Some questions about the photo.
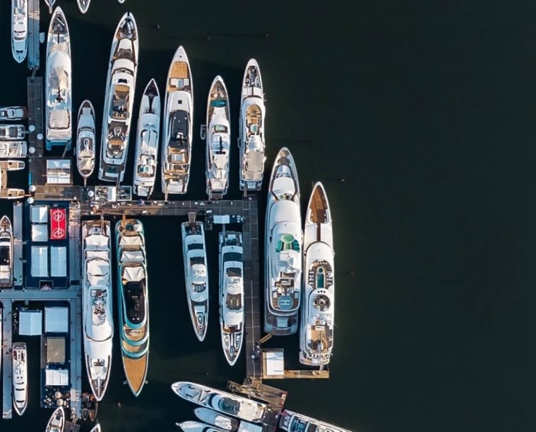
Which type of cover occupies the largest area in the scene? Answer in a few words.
water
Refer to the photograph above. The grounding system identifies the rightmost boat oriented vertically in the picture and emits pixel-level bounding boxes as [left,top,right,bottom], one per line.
[298,182,334,368]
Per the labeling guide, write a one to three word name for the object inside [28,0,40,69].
pier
